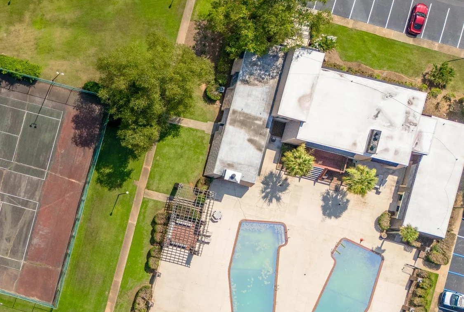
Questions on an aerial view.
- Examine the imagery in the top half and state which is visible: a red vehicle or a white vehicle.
red vehicle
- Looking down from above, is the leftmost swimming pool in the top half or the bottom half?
bottom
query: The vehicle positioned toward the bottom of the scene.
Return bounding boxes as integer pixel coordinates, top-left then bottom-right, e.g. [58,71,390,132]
[436,292,464,312]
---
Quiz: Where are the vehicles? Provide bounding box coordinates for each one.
[436,292,464,312]
[405,3,427,35]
